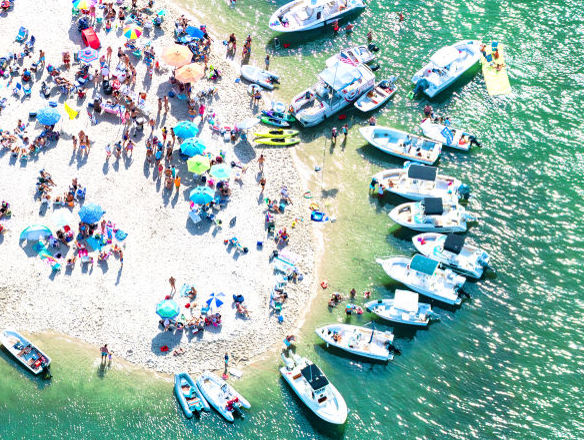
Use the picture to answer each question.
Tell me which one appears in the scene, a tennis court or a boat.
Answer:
boat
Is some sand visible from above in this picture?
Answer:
Yes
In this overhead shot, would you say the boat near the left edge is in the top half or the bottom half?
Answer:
bottom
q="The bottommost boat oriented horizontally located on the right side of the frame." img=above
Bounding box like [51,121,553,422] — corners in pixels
[317,324,405,364]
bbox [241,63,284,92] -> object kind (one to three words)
boat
